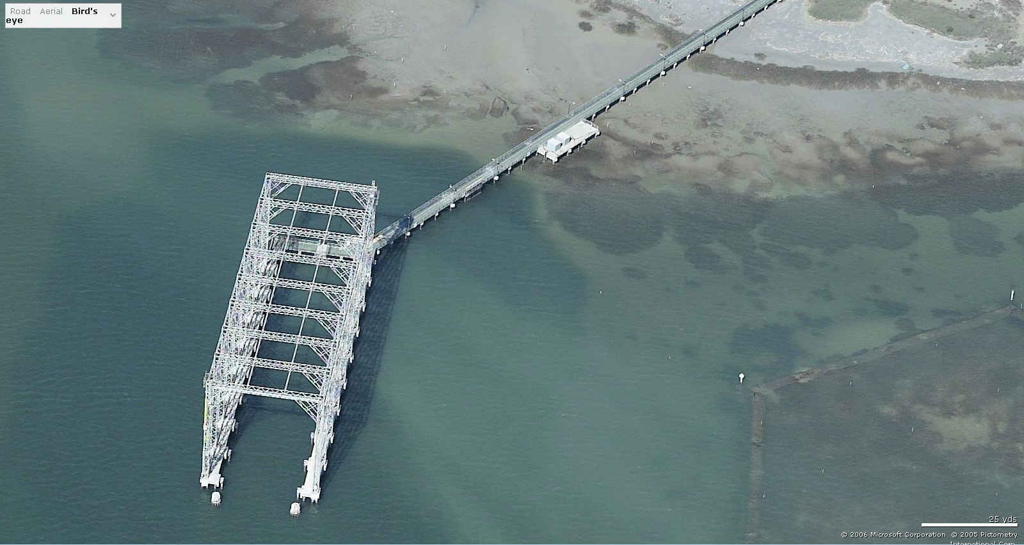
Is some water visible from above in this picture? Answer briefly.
Yes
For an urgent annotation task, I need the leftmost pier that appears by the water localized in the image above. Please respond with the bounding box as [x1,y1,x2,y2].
[203,233,294,492]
